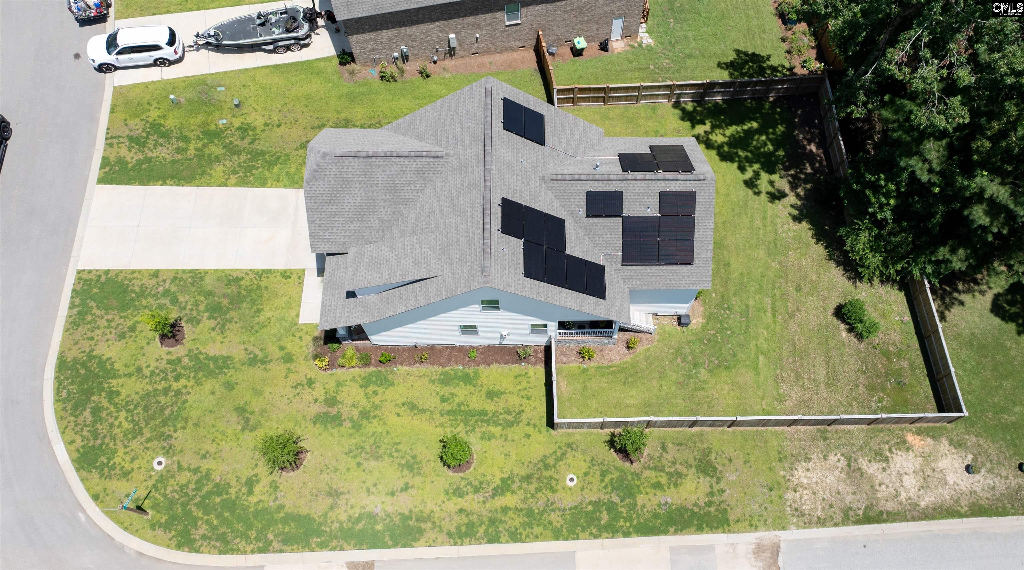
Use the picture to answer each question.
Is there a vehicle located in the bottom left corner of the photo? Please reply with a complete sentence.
No, there is no vehicle in the bottom left corner of the photo.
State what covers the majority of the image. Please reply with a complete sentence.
The scene is dominated by grass.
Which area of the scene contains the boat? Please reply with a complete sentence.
The boat appears toward the top left of the photo.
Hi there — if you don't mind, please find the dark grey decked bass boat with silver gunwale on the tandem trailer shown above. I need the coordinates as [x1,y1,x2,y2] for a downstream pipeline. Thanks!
[187,0,334,42]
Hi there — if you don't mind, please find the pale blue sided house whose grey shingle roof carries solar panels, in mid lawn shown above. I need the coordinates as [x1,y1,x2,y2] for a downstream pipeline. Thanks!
[302,77,717,347]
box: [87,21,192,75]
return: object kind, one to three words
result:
car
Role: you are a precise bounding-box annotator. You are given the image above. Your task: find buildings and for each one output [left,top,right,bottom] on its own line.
[302,77,717,347]
[330,0,645,65]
